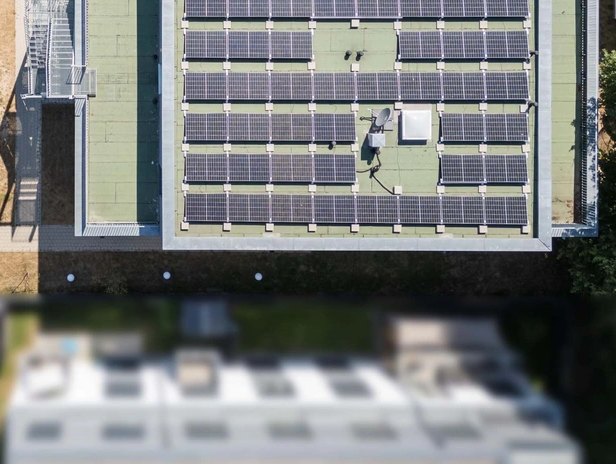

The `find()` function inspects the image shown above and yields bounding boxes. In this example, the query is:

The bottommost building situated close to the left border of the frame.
[5,357,164,464]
